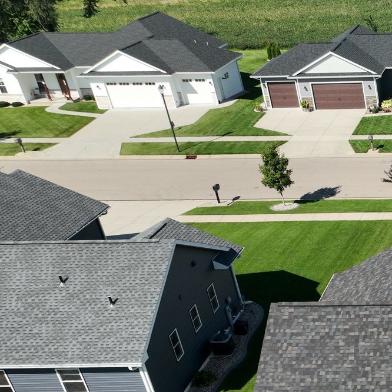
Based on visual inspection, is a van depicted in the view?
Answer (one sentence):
No, the frame has no van in it.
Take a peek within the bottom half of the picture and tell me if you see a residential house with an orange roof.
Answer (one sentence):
No, looking within the bottom half of the picture, there is no residential house with an orange roof.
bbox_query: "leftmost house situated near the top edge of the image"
[0,12,247,109]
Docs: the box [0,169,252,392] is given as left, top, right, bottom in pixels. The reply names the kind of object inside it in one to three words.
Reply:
house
